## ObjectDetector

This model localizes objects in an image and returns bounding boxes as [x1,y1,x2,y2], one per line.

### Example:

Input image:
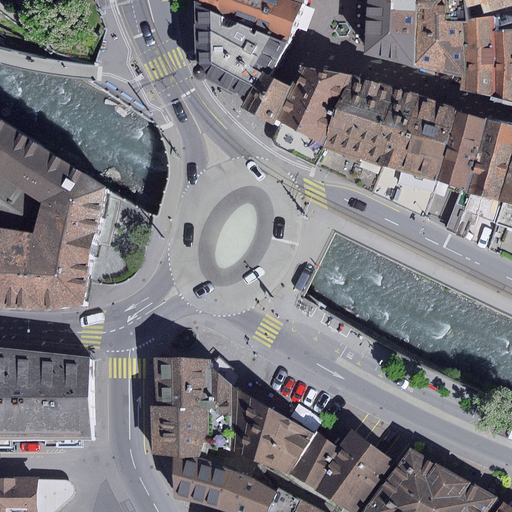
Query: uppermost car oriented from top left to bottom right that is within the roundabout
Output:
[246,160,266,181]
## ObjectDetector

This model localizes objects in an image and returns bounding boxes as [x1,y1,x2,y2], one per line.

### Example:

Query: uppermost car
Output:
[139,20,156,45]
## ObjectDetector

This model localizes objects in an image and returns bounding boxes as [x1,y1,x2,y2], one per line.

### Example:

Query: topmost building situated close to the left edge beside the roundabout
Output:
[0,120,107,308]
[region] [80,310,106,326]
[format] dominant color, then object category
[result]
white vehicle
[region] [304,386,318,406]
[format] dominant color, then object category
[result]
white car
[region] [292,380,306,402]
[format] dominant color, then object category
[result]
red car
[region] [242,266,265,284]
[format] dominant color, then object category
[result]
white car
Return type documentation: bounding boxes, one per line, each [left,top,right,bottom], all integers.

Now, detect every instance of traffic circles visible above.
[165,131,303,316]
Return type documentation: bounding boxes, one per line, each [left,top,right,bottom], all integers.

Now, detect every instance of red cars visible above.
[292,380,306,402]
[281,376,296,397]
[20,442,40,452]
